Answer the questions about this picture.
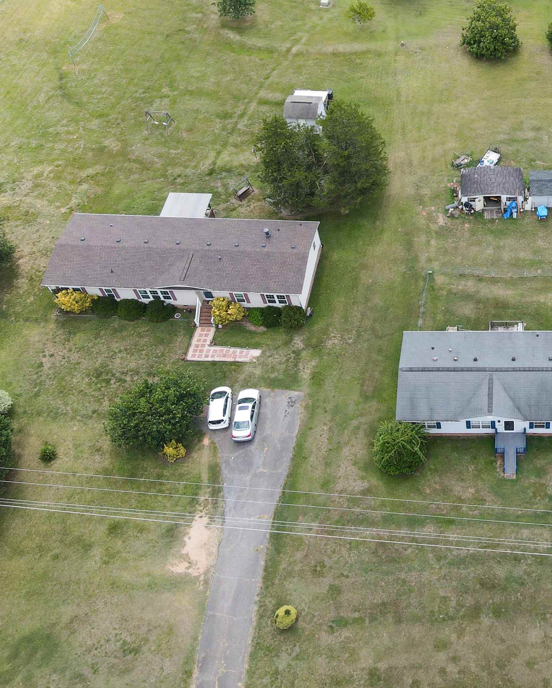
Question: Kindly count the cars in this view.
2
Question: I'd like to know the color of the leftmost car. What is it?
white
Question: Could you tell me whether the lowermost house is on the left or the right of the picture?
right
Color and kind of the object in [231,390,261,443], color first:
white car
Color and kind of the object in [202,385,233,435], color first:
white car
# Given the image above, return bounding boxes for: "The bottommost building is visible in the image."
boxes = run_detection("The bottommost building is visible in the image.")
[395,320,552,481]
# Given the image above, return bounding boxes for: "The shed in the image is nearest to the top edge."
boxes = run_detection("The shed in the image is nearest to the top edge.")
[282,82,333,132]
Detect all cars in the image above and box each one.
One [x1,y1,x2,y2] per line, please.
[231,390,261,443]
[202,385,233,435]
